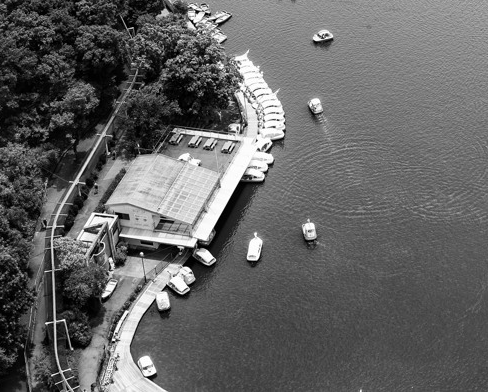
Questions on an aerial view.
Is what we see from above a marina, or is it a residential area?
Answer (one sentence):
It's a marina.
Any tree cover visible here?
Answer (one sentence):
Yes, the picture does contain tree cover.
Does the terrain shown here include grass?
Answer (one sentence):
No, the picture contains no grass.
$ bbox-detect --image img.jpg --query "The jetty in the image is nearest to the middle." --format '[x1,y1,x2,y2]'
[205,166,255,248]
